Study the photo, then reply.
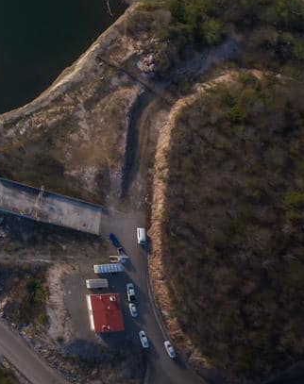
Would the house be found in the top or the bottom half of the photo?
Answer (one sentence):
You can find the house in the bottom half.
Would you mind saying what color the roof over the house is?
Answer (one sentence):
The roof of the house is red.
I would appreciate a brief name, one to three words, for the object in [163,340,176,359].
vehicle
